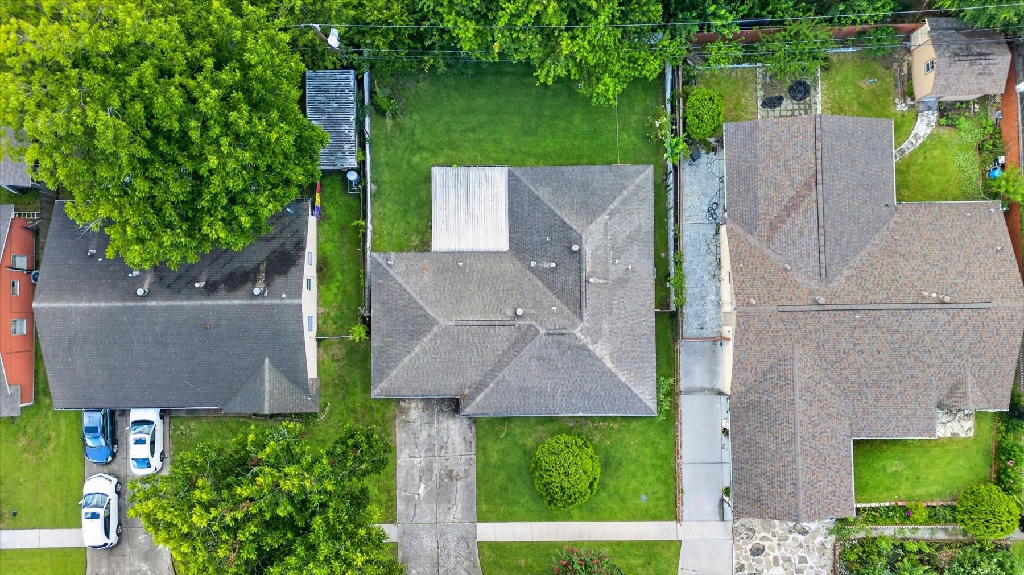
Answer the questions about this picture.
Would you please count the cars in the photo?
3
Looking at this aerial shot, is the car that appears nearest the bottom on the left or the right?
left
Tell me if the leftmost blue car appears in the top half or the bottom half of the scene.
bottom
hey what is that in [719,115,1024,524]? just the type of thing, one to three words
house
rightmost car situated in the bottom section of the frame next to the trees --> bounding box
[123,411,165,476]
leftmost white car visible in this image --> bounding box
[77,473,120,551]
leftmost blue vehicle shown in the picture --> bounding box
[78,411,121,465]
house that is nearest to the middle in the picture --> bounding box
[370,164,656,418]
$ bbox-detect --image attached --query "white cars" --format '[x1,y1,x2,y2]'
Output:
[123,411,165,476]
[77,473,120,551]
